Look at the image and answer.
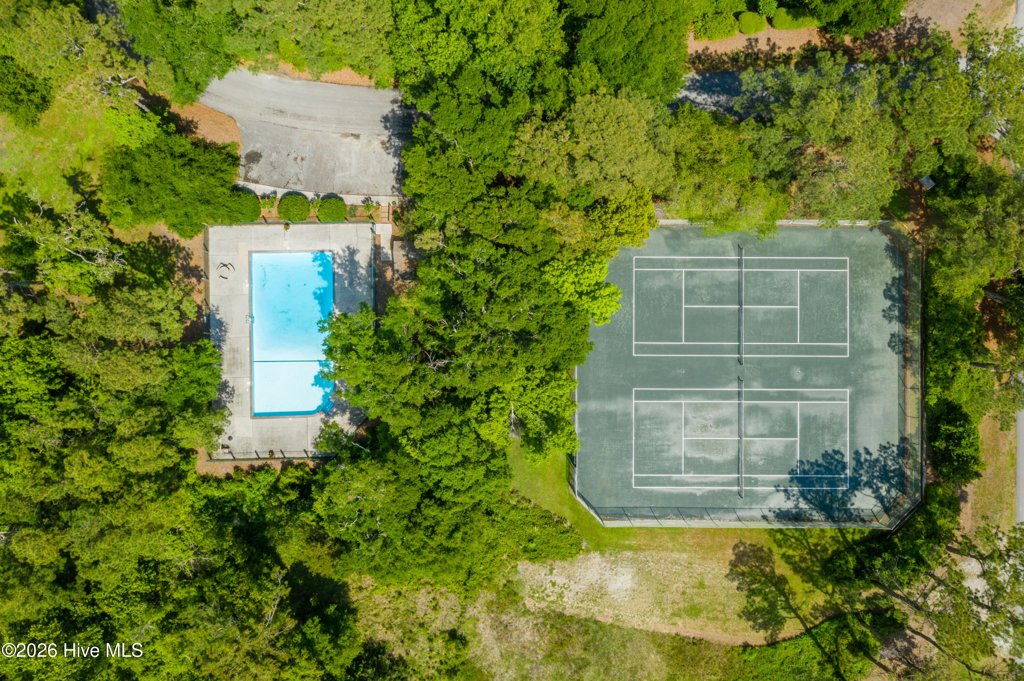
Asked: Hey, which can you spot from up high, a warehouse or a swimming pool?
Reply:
swimming pool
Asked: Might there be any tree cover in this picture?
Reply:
Yes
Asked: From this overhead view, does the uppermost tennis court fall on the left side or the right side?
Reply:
right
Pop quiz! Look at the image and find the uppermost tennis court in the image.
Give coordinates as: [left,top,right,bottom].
[575,225,906,374]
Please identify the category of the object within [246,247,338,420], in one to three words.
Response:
swimming pool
